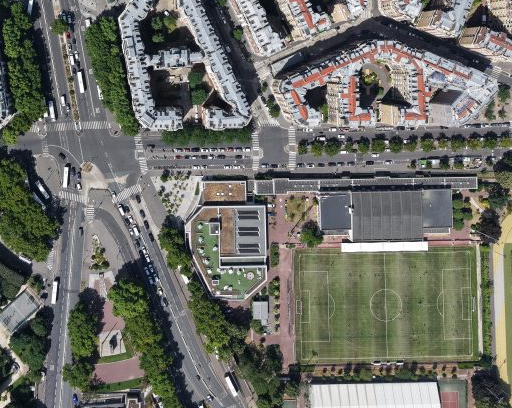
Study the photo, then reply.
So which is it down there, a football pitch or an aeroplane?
football pitch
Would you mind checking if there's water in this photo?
No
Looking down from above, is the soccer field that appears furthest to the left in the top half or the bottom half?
bottom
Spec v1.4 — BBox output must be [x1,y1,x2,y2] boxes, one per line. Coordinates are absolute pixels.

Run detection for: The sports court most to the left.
[0,288,39,334]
